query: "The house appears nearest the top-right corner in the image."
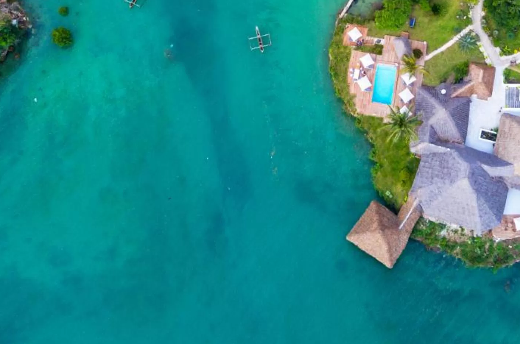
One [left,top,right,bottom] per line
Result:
[453,61,496,101]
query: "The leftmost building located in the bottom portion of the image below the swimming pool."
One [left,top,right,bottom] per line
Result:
[345,199,415,270]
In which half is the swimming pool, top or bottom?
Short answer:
top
